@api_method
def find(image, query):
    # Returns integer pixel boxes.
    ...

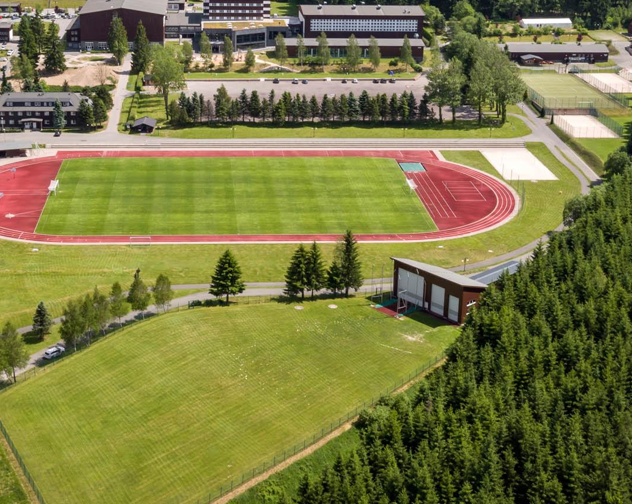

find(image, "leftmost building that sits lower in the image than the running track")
[389,257,490,324]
